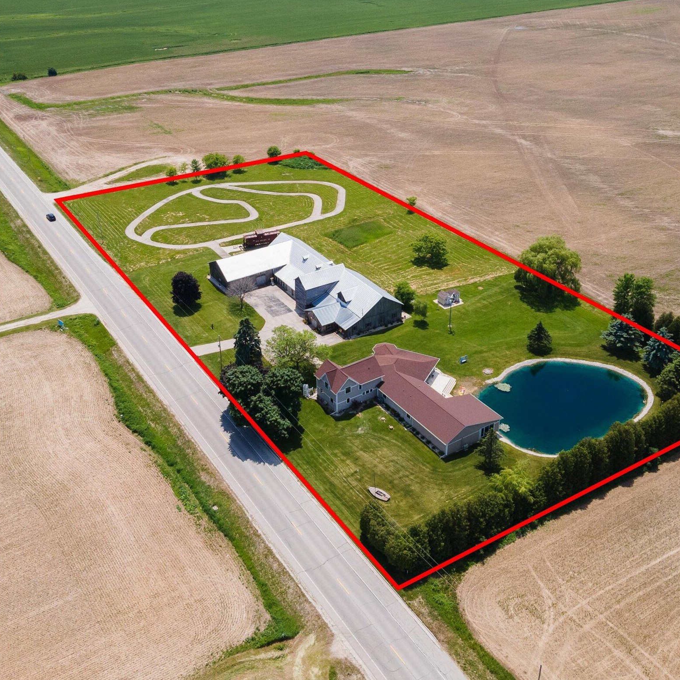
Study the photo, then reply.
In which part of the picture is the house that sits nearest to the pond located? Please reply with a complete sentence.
The house that sits nearest to the pond is located in the center region of the scene.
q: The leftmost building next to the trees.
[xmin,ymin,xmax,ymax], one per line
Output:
[207,232,403,340]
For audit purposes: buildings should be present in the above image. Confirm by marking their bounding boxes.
[207,232,403,340]
[313,342,503,458]
[437,286,458,305]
